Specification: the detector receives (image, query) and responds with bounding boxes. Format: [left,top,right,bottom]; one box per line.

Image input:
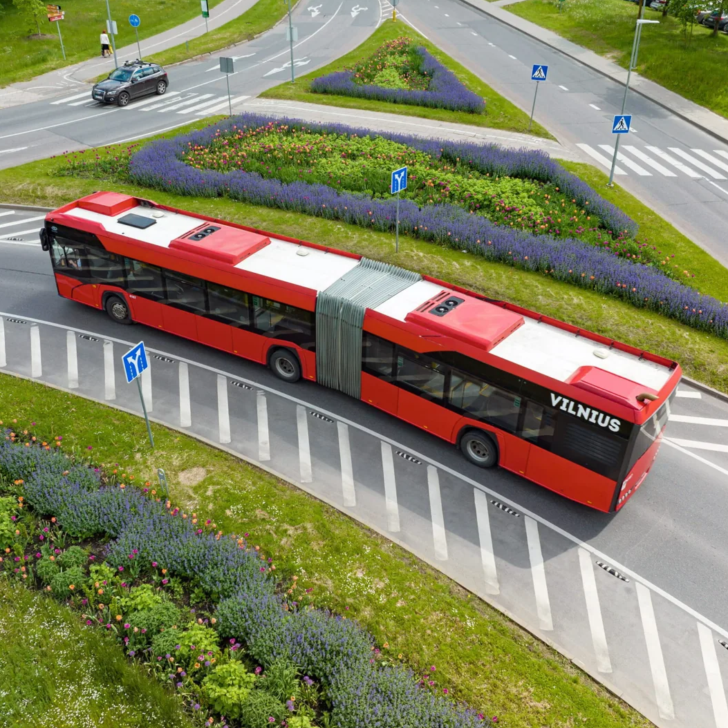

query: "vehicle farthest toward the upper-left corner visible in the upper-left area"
[87,58,167,107]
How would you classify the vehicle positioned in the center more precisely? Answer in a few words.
bus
